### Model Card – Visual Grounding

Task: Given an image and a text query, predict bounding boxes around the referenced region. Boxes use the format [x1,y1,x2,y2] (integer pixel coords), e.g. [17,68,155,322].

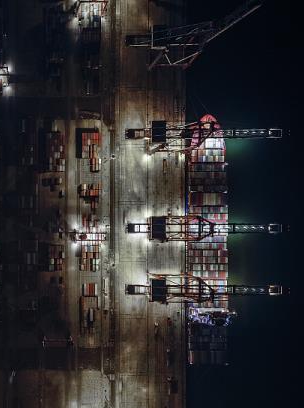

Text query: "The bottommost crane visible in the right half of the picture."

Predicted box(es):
[125,269,289,301]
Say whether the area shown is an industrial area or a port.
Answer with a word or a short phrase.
port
